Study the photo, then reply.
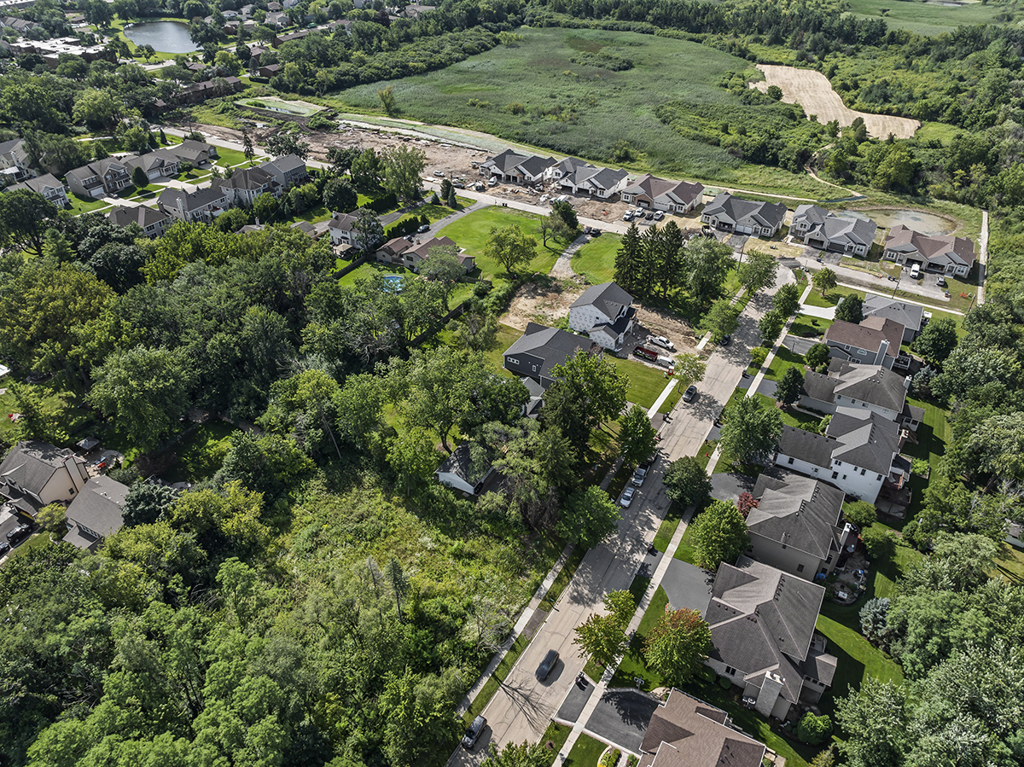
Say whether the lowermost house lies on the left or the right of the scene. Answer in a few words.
right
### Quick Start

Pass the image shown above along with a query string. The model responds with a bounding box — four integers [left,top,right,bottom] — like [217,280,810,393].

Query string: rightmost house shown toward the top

[884,219,977,278]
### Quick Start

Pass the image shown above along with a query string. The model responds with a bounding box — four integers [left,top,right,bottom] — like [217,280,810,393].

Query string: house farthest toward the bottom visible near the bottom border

[639,684,767,767]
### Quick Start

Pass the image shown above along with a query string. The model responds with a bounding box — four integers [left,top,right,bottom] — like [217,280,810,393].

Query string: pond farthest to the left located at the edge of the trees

[125,21,198,52]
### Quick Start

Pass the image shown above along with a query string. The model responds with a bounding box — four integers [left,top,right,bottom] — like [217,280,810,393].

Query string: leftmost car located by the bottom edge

[462,713,487,746]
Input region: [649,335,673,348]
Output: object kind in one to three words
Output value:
vehicle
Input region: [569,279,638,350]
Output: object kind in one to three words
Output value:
house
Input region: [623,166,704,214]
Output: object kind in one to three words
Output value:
house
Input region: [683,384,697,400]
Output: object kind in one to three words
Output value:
car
